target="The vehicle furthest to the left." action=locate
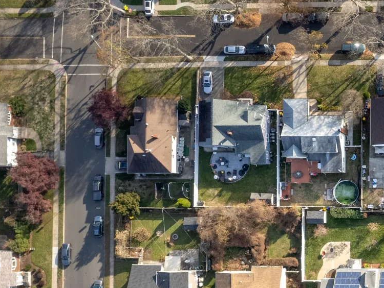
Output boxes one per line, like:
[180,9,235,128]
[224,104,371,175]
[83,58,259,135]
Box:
[61,244,73,265]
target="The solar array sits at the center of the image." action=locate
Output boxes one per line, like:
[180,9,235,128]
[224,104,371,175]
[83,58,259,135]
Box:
[199,100,211,142]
